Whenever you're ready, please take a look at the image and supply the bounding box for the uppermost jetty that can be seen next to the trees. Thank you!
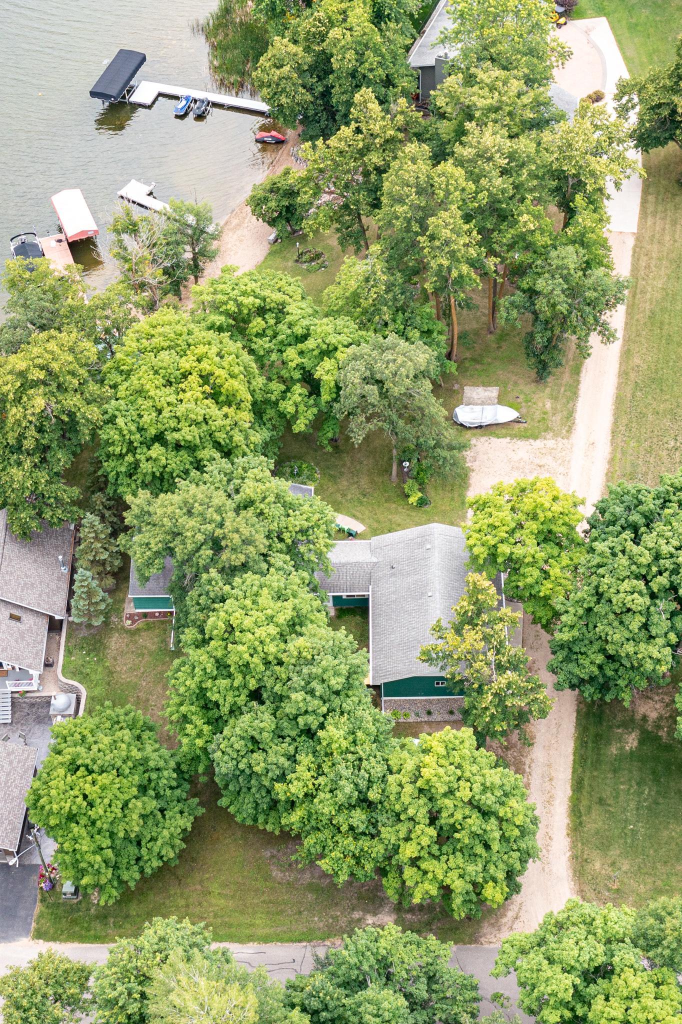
[128,82,275,117]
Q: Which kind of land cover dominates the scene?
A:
trees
